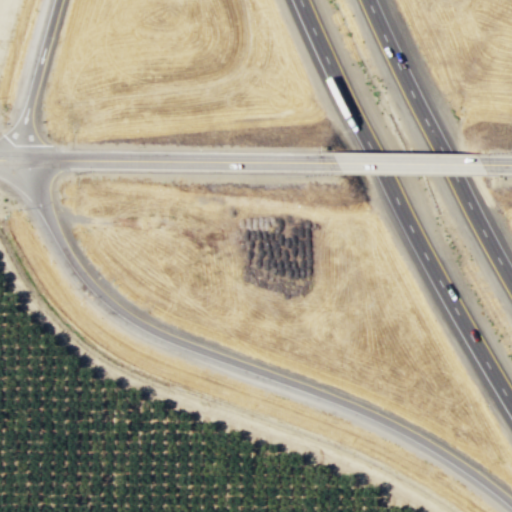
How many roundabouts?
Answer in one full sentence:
I count no roundabouts.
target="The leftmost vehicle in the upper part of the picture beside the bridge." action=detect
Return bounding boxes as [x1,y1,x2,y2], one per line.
[326,74,356,129]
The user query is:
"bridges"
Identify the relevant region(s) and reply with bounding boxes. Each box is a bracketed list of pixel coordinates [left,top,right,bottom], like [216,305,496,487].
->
[325,152,499,178]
